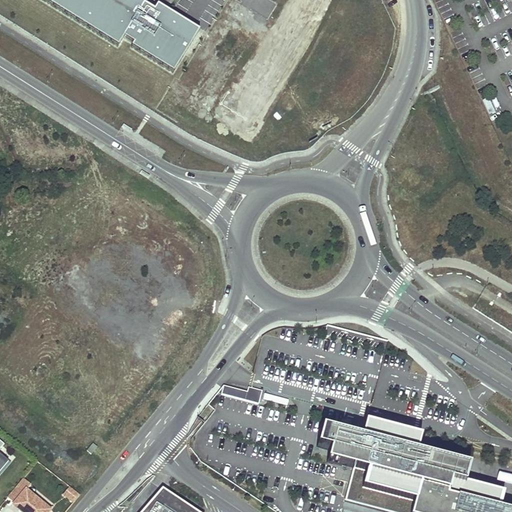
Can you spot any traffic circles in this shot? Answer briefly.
Yes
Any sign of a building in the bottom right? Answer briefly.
Yes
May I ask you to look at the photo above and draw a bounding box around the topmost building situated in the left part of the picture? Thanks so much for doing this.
[40,0,204,74]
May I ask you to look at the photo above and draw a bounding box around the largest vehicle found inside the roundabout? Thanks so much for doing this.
[360,205,376,246]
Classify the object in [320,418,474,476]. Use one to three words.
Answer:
building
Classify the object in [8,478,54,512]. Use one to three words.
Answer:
house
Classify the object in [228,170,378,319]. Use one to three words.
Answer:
roundabout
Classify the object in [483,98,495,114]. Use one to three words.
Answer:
vehicle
